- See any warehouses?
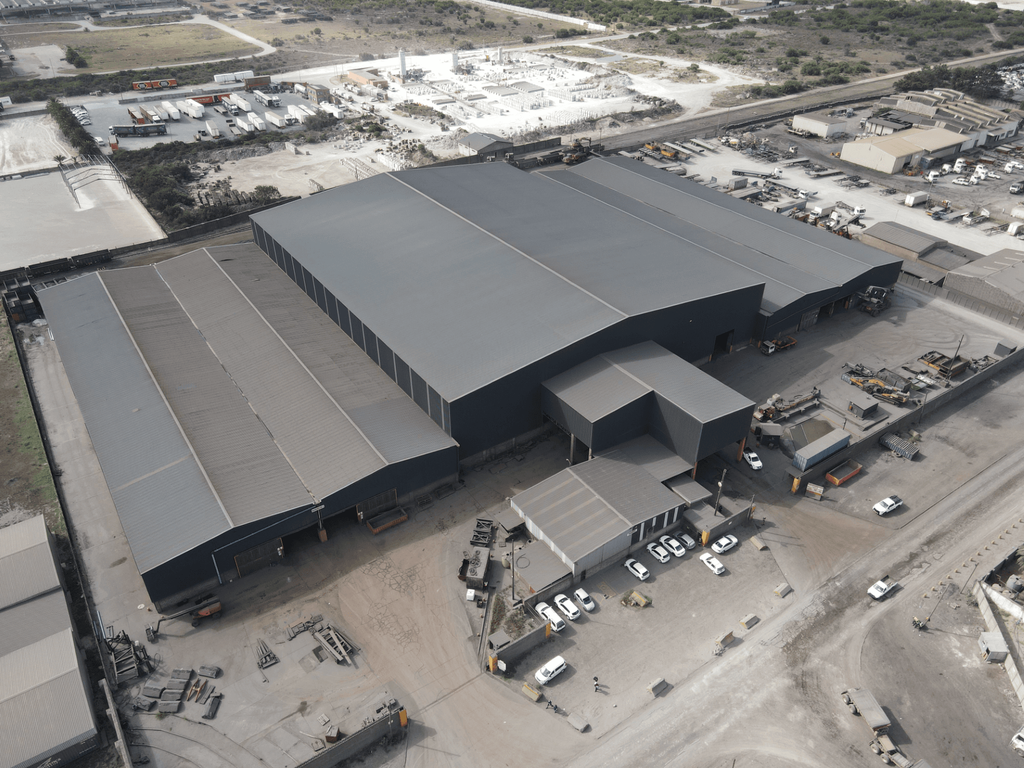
Yes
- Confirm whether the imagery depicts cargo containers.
Yes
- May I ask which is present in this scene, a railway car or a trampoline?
railway car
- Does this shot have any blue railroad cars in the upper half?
No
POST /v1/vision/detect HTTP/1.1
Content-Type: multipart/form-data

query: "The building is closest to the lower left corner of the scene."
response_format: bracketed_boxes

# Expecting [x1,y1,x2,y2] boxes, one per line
[0,514,116,768]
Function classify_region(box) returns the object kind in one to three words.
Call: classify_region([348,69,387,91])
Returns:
building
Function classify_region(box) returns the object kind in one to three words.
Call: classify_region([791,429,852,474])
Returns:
shipping container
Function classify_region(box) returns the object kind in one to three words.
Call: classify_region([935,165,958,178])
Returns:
vehicle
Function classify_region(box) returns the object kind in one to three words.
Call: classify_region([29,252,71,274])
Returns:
rail car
